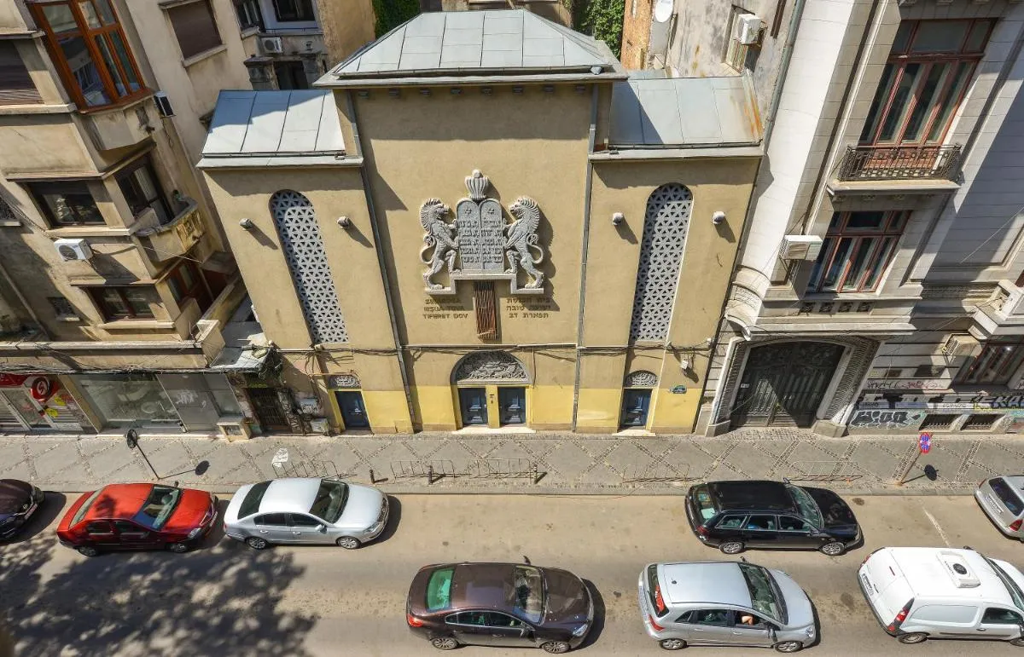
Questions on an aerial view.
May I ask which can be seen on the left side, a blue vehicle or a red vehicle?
red vehicle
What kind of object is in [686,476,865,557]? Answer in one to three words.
car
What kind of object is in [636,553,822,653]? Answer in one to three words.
car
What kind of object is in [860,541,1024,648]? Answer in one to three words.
van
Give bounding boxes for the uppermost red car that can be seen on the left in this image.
[58,478,223,558]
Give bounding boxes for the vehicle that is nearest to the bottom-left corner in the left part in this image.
[0,476,49,548]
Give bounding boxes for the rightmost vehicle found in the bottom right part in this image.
[982,479,1024,550]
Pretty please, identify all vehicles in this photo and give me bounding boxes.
[686,476,865,557]
[219,474,390,553]
[860,541,1024,648]
[58,478,223,558]
[405,552,595,653]
[0,476,49,548]
[636,553,822,653]
[982,479,1024,550]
